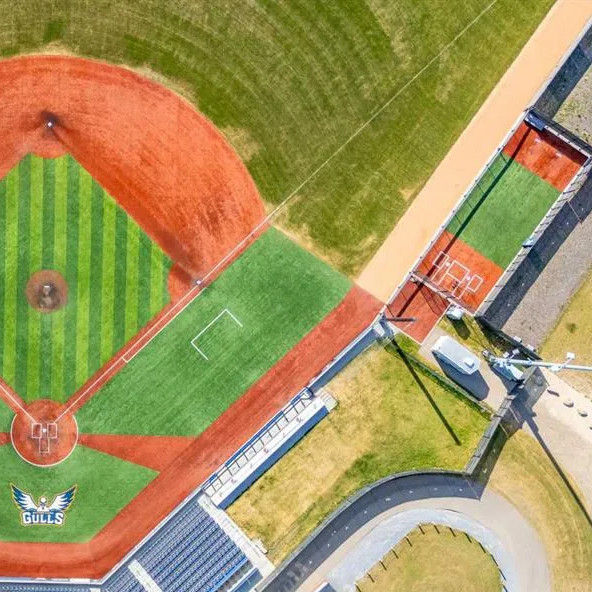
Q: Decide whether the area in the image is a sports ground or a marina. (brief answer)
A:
sports ground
